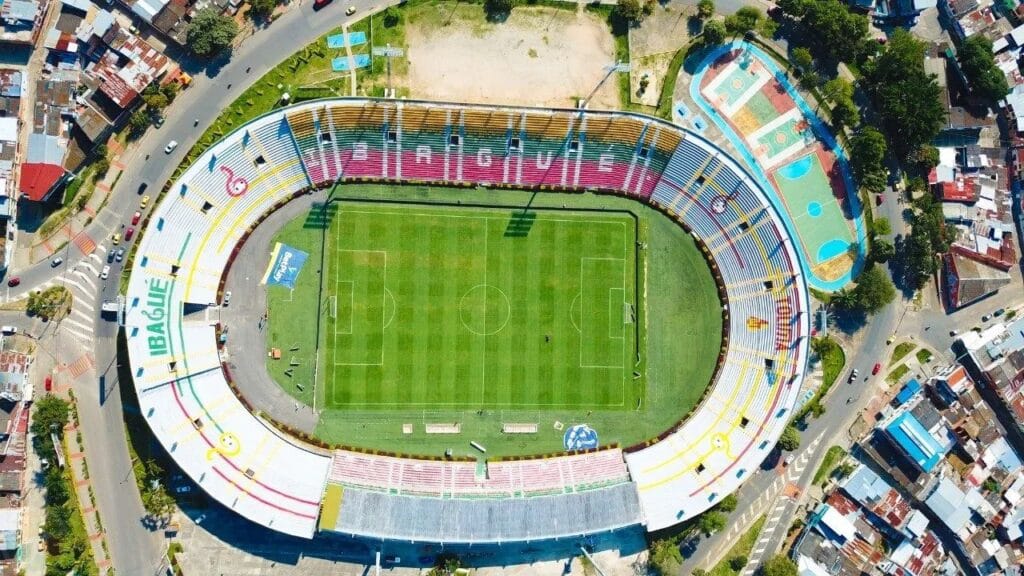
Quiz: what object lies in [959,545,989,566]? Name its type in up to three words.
house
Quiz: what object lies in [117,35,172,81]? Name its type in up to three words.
house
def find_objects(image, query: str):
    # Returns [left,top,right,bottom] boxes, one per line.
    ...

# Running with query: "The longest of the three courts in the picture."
[771,151,851,264]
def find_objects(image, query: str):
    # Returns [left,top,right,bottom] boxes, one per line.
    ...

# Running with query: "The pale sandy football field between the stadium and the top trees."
[407,9,616,110]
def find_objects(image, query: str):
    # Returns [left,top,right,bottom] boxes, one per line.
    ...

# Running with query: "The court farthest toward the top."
[704,56,770,116]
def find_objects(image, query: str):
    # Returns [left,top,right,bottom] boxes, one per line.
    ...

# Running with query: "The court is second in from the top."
[745,107,816,173]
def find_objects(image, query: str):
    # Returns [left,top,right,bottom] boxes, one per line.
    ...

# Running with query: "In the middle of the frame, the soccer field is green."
[325,202,646,413]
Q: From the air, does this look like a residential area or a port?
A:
residential area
